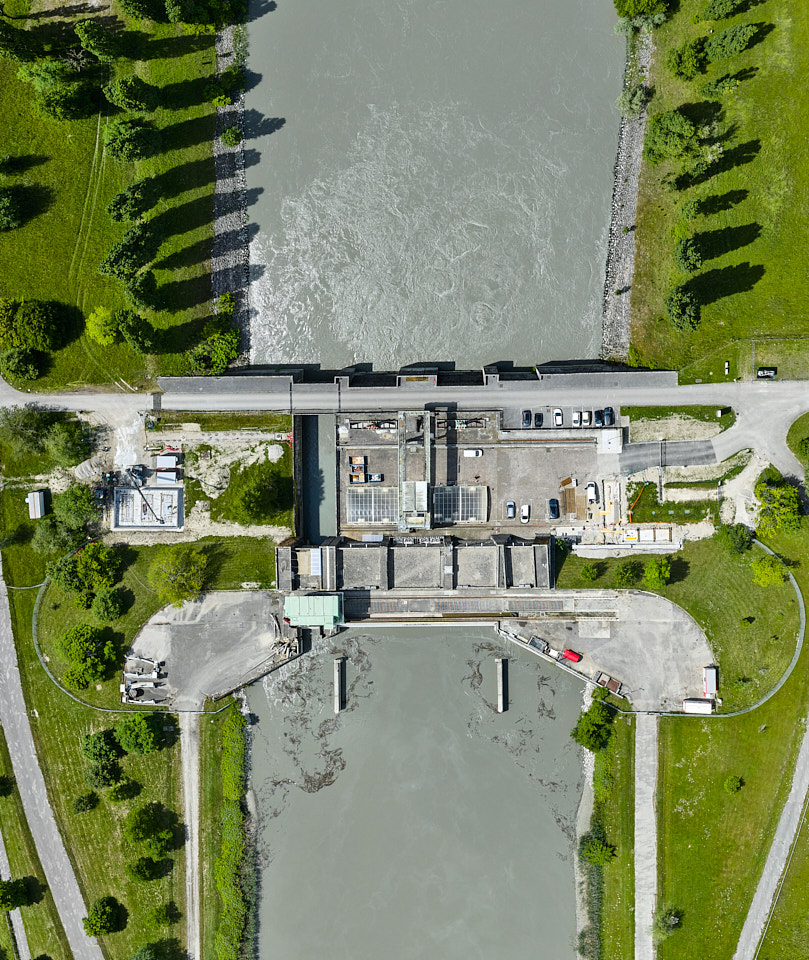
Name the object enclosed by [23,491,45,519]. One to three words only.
shed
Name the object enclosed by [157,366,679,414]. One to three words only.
bridge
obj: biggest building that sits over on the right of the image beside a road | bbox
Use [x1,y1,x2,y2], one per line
[600,429,625,452]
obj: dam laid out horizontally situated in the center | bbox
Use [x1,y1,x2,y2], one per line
[276,534,619,628]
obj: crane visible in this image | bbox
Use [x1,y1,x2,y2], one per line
[398,411,430,531]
